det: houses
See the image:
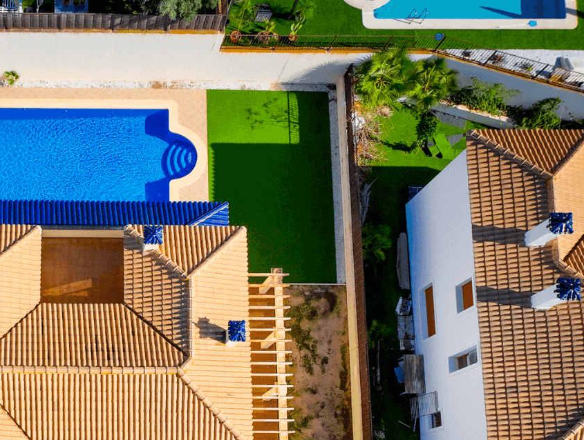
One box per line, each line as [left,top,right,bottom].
[0,198,256,440]
[411,128,584,440]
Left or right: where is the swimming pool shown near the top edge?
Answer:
right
